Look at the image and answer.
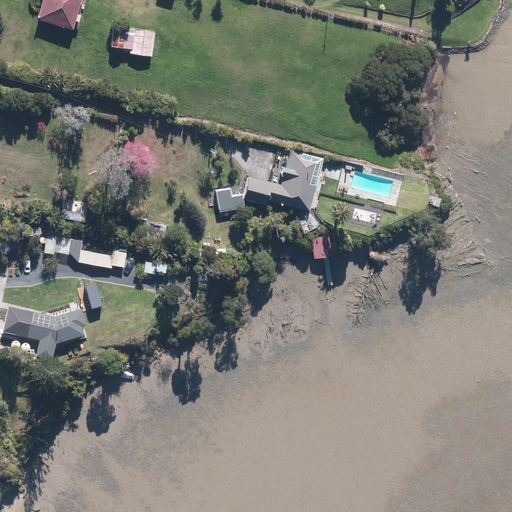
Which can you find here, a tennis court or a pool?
pool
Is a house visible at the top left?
Yes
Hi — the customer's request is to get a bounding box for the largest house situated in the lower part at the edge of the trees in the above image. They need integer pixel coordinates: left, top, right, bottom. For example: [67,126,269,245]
[2,306,88,356]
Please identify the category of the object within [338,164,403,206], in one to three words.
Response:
swimming pool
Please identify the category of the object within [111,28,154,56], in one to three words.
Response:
shed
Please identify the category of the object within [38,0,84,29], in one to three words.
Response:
house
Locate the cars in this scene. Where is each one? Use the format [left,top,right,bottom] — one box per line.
[124,259,135,276]
[24,260,31,274]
